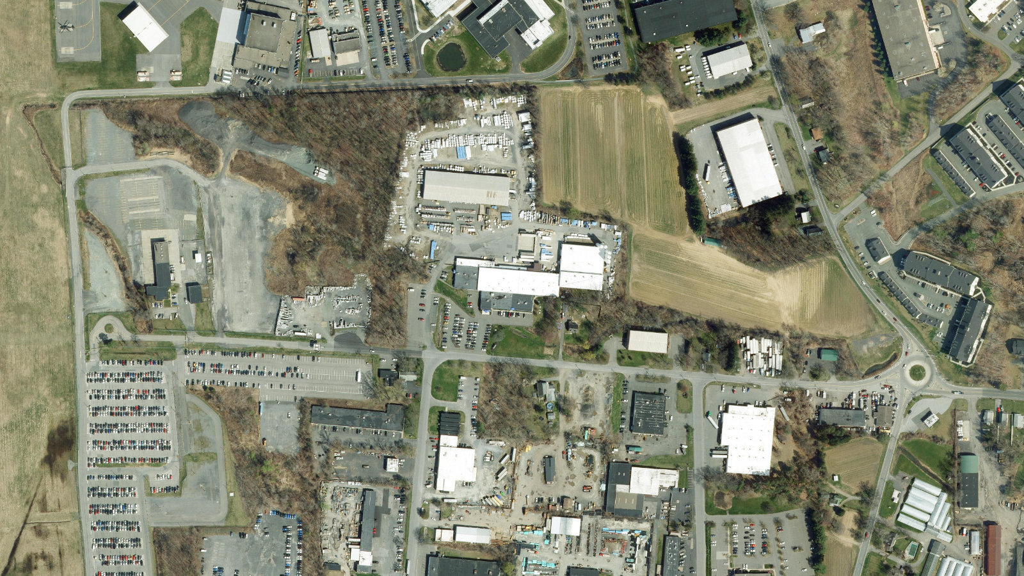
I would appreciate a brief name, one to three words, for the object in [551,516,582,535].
shed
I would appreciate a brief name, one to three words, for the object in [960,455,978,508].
barn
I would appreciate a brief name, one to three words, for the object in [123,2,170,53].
hangar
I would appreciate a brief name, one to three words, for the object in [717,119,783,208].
building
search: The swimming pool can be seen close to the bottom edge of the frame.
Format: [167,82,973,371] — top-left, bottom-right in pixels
[905,542,919,560]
